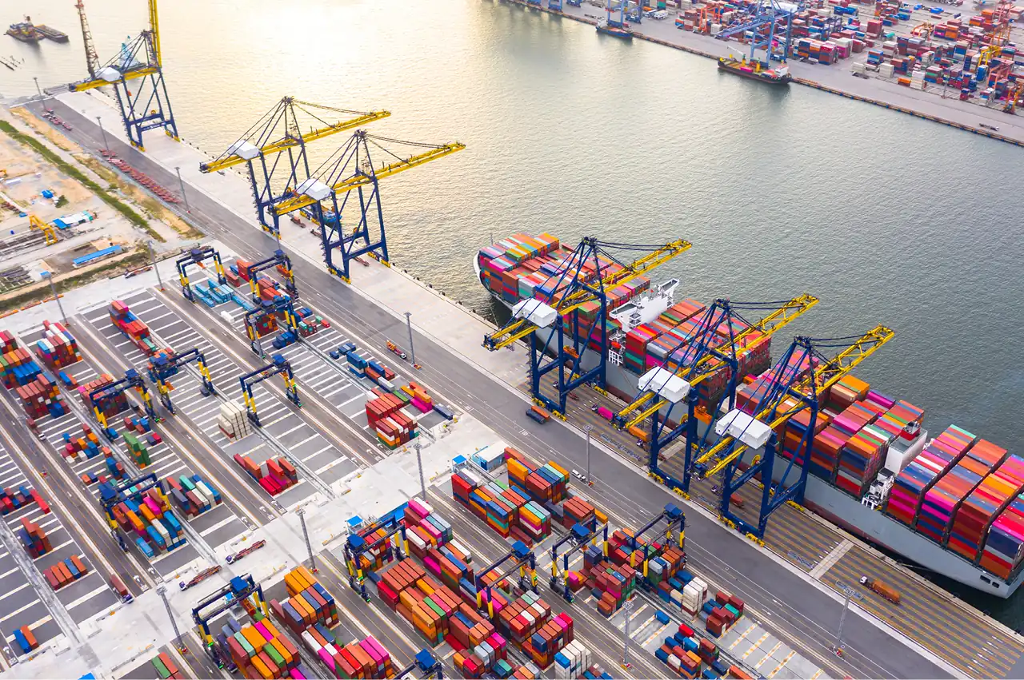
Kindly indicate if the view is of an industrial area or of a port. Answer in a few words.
port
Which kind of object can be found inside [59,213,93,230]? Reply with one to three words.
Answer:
shed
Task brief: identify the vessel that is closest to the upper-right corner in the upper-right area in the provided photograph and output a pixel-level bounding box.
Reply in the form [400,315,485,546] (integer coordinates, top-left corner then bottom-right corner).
[708,39,792,88]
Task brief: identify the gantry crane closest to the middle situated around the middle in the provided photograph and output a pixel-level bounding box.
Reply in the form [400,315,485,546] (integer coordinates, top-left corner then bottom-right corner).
[479,231,694,423]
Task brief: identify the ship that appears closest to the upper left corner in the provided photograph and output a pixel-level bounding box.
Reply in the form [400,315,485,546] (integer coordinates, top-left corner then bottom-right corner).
[7,13,55,41]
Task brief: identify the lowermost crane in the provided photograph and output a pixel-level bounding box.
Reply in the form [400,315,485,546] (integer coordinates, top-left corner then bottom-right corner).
[351,627,424,680]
